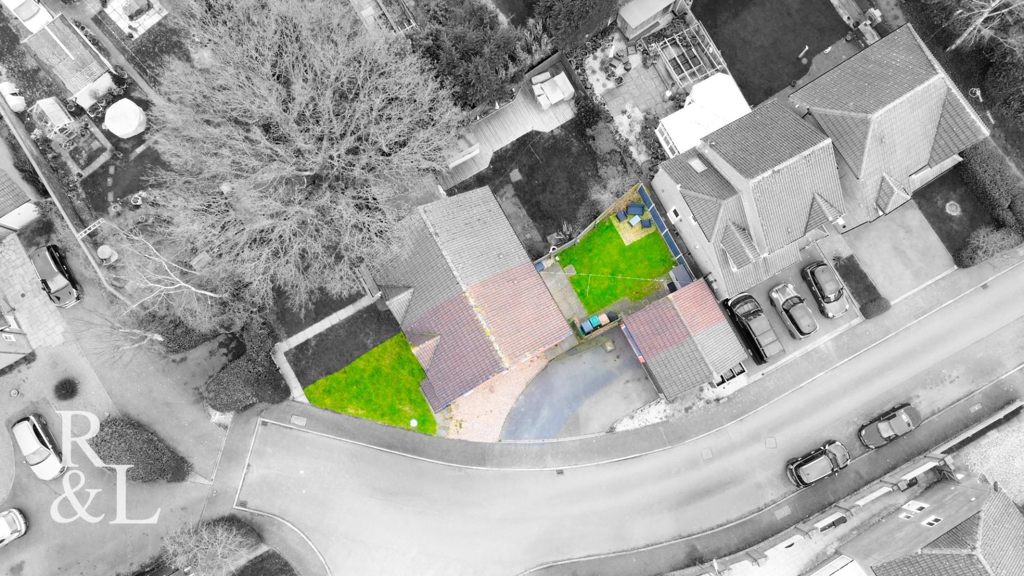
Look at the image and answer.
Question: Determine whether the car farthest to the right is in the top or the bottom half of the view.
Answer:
bottom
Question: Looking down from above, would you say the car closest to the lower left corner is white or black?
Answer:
white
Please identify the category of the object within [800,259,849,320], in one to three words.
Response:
car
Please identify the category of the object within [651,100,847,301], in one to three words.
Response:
house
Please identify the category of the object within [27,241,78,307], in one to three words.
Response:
car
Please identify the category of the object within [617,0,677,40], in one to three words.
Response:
shed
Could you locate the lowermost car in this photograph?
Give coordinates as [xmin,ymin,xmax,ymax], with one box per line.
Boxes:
[0,507,28,543]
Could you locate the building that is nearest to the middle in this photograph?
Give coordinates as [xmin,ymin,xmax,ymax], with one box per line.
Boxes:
[354,186,574,414]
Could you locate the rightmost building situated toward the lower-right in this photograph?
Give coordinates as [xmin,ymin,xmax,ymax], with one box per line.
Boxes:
[837,462,1024,576]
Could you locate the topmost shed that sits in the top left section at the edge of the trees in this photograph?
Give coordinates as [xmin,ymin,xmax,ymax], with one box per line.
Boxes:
[21,12,123,103]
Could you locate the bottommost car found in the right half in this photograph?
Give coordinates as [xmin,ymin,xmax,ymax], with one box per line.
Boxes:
[786,442,853,492]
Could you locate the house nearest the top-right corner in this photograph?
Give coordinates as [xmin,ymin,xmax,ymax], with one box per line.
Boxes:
[786,21,994,223]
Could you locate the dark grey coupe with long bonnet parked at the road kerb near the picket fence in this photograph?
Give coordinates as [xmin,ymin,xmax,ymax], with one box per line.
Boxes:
[858,404,931,453]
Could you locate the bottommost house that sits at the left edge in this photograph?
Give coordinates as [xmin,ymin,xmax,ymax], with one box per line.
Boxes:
[0,291,32,368]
